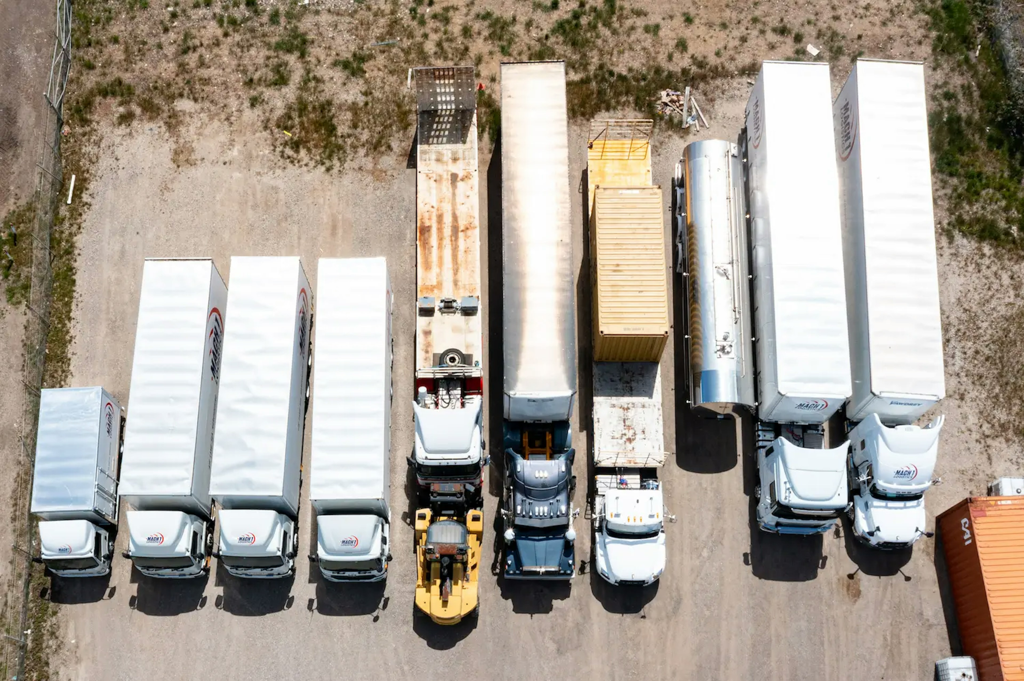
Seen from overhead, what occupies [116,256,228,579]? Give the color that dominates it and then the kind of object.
white truck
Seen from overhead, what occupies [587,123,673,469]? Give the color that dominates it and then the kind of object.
white trailer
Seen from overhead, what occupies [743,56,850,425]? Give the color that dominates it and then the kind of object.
white trailer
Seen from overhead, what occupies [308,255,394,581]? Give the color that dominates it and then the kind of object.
white truck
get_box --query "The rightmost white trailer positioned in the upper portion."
[832,54,945,425]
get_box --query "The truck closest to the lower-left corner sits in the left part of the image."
[31,384,125,574]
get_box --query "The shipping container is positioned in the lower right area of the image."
[938,496,1024,681]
